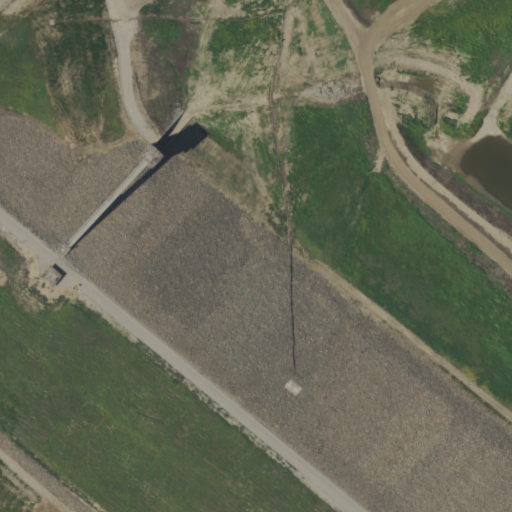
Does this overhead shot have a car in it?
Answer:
No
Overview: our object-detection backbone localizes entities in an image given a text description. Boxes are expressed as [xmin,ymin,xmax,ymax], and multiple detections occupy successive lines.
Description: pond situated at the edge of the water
[458,135,512,217]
